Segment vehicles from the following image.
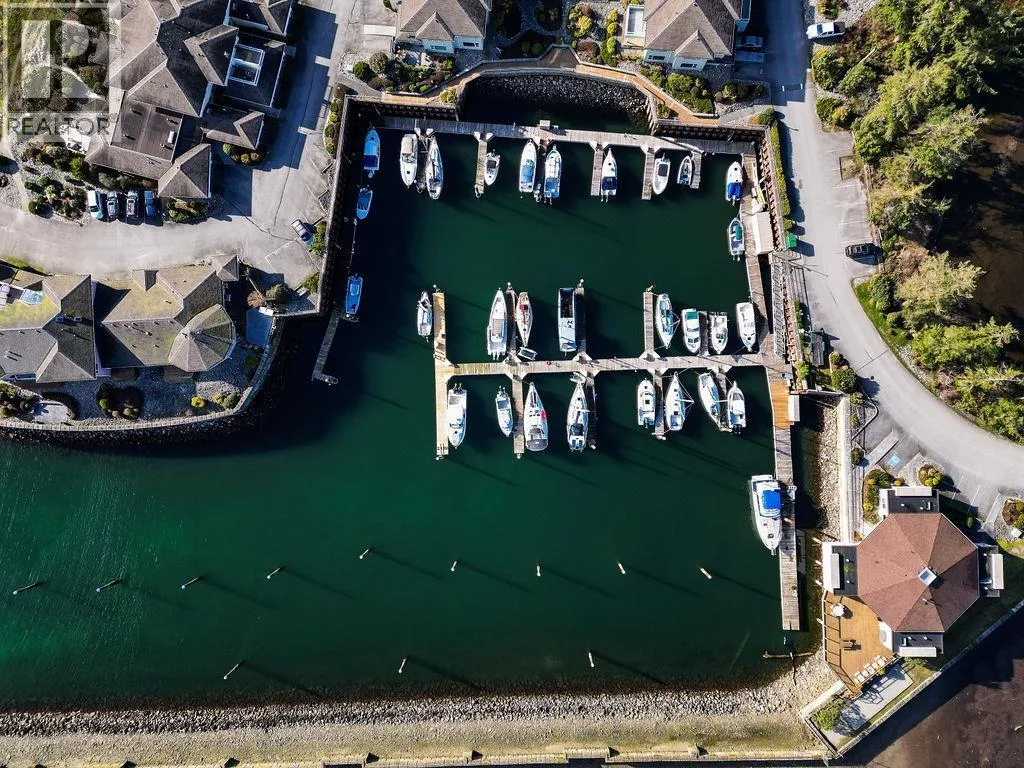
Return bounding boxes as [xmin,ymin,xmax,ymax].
[144,191,162,219]
[107,191,124,220]
[291,220,316,247]
[88,190,108,220]
[843,243,875,259]
[805,22,845,42]
[126,190,144,220]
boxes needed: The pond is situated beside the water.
[926,0,1024,398]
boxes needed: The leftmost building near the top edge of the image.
[88,0,293,200]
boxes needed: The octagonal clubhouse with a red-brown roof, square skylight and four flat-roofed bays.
[822,484,1004,657]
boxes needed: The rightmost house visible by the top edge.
[640,0,750,70]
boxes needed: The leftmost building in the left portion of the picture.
[0,261,112,383]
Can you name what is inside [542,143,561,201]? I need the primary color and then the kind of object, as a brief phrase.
white boat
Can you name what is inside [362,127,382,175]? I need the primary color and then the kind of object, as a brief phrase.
blue boat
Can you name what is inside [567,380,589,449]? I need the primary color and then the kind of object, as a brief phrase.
white boat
